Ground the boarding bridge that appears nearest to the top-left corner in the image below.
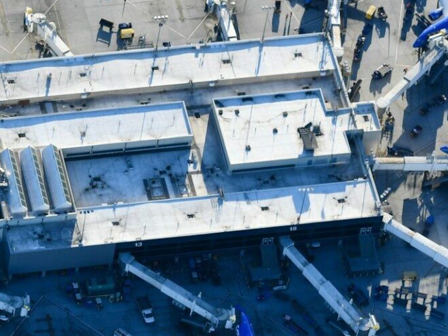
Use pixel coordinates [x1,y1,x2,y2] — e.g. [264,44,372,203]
[18,6,82,57]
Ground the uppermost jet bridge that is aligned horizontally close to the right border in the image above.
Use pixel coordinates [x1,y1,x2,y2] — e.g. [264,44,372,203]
[365,154,448,193]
